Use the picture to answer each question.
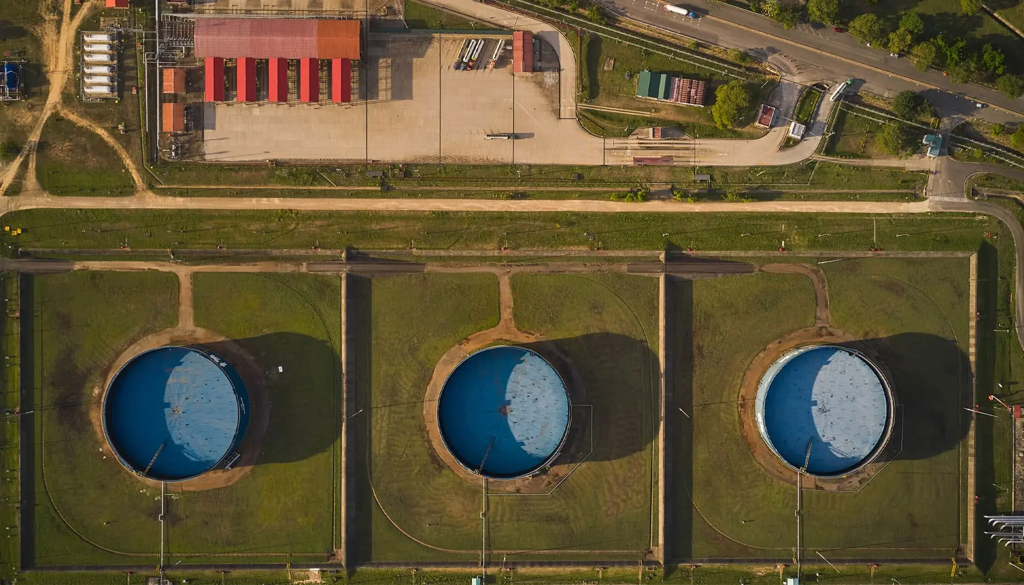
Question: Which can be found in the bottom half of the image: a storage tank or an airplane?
storage tank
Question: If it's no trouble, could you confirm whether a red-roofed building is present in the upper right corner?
Yes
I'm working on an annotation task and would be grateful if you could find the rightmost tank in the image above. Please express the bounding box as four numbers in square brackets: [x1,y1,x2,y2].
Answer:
[752,342,897,480]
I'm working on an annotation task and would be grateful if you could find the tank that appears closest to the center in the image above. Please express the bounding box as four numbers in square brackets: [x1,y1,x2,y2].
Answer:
[435,342,573,482]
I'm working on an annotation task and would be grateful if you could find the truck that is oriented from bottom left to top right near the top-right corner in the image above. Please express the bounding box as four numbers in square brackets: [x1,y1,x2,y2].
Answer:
[830,75,856,101]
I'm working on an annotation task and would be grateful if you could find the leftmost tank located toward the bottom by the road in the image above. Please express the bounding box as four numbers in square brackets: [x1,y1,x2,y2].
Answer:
[100,342,250,484]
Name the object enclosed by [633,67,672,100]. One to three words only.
building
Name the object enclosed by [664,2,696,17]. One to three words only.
vehicle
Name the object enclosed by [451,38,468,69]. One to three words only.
vehicle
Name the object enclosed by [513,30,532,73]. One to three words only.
building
